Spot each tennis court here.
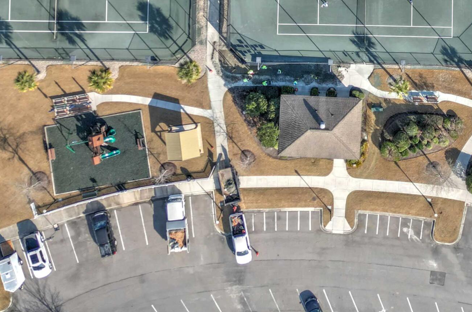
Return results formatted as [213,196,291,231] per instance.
[229,0,472,67]
[0,0,195,64]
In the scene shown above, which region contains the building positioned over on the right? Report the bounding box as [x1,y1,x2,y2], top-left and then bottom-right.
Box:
[277,95,362,160]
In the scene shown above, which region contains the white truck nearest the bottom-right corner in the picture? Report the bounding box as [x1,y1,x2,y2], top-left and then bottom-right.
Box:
[227,210,251,266]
